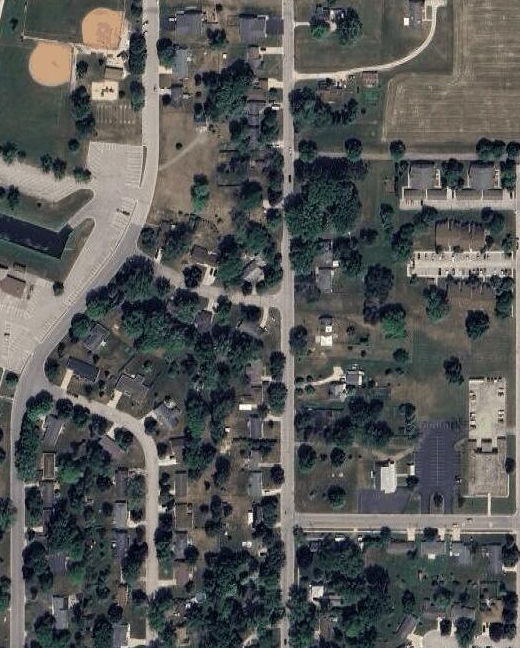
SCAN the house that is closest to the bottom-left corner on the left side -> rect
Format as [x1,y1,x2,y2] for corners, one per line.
[53,597,67,629]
